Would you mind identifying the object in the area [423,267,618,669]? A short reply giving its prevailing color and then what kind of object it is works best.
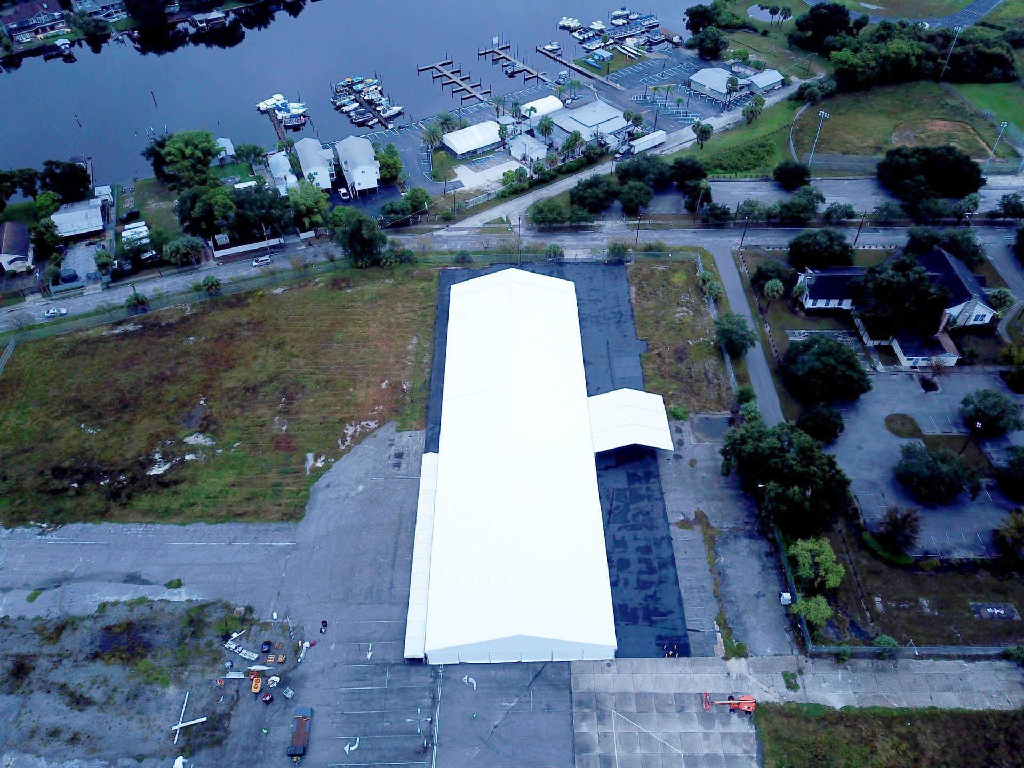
white tent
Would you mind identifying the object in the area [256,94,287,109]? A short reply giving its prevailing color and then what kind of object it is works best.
white boat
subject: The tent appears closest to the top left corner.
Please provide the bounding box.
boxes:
[437,120,503,164]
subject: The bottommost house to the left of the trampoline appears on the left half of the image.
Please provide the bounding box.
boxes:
[0,212,54,276]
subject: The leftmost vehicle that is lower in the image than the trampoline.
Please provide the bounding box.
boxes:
[44,306,68,318]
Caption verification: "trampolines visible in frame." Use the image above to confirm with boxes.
[53,263,78,284]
